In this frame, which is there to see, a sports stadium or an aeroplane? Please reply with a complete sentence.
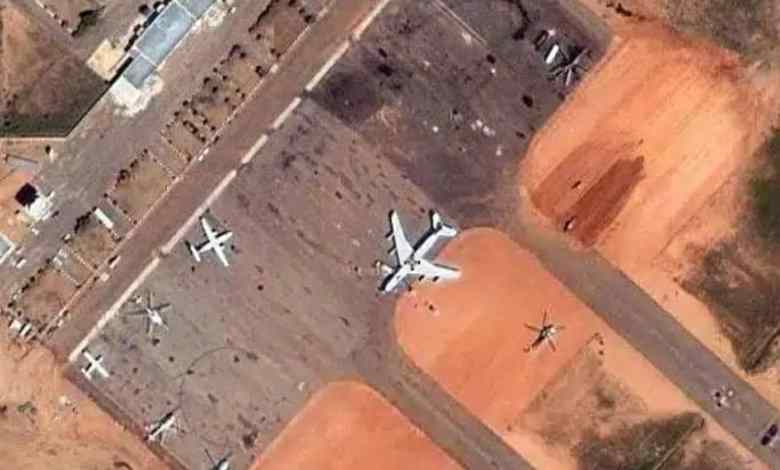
I can see an aeroplane in this picture.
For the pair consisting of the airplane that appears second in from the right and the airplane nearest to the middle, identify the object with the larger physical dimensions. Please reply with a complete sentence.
The airplane nearest to the middle covers a greater area than the airplane that appears second in from the right.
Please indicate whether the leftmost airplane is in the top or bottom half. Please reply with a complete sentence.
It is in the bottom half that the leftmost airplane appears.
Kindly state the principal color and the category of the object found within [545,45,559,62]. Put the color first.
white vehicle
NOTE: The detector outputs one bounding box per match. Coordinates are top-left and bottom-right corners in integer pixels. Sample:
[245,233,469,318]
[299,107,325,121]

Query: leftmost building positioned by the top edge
[124,0,211,88]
